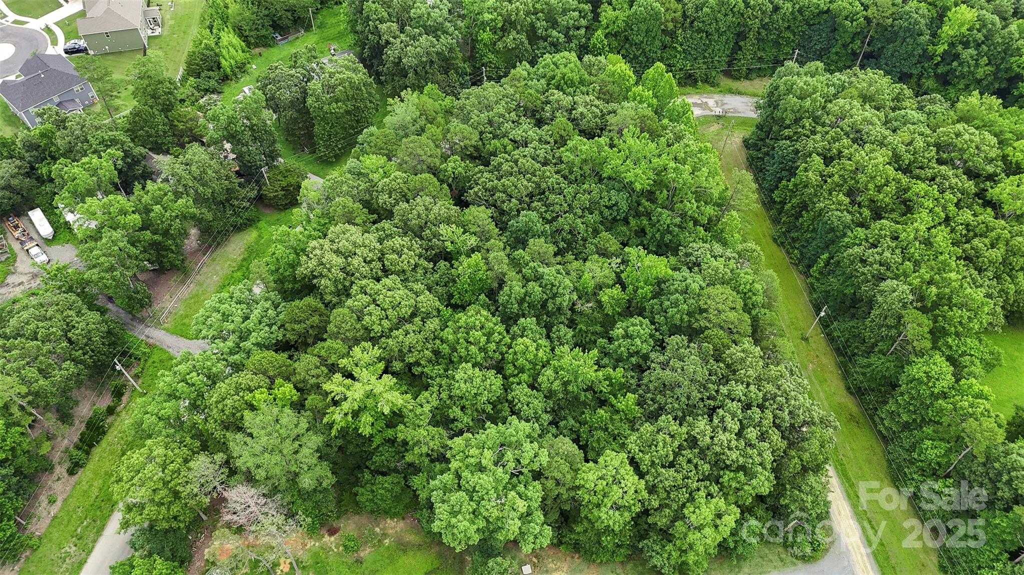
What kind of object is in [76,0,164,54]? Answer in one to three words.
house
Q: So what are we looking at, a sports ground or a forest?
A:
forest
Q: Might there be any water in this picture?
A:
No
